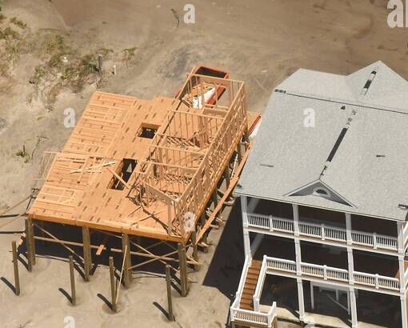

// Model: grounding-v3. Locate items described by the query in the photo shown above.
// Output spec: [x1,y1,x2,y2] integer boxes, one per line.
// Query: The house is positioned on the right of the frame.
[227,56,408,328]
